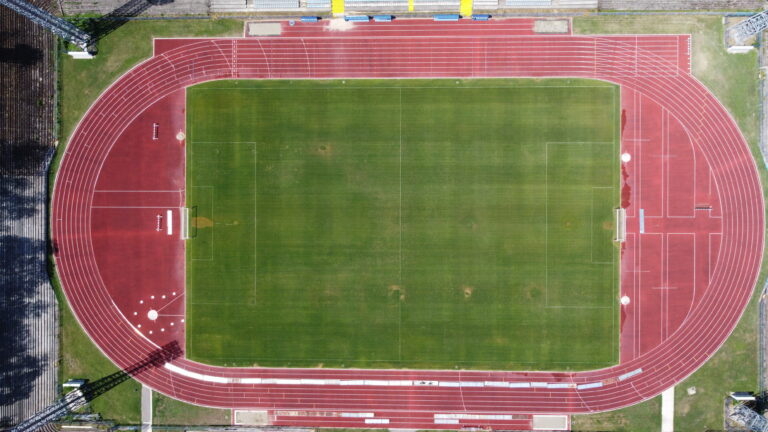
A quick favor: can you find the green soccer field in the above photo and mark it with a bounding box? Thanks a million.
[185,77,621,371]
